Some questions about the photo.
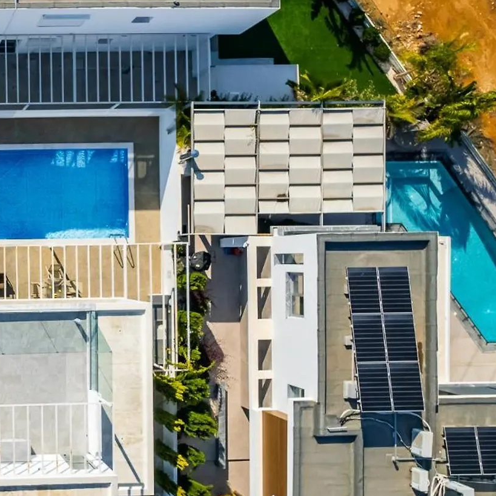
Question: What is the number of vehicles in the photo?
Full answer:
There are no vehicles in the image.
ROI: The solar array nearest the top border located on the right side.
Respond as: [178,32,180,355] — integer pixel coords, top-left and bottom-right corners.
[343,267,423,411]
